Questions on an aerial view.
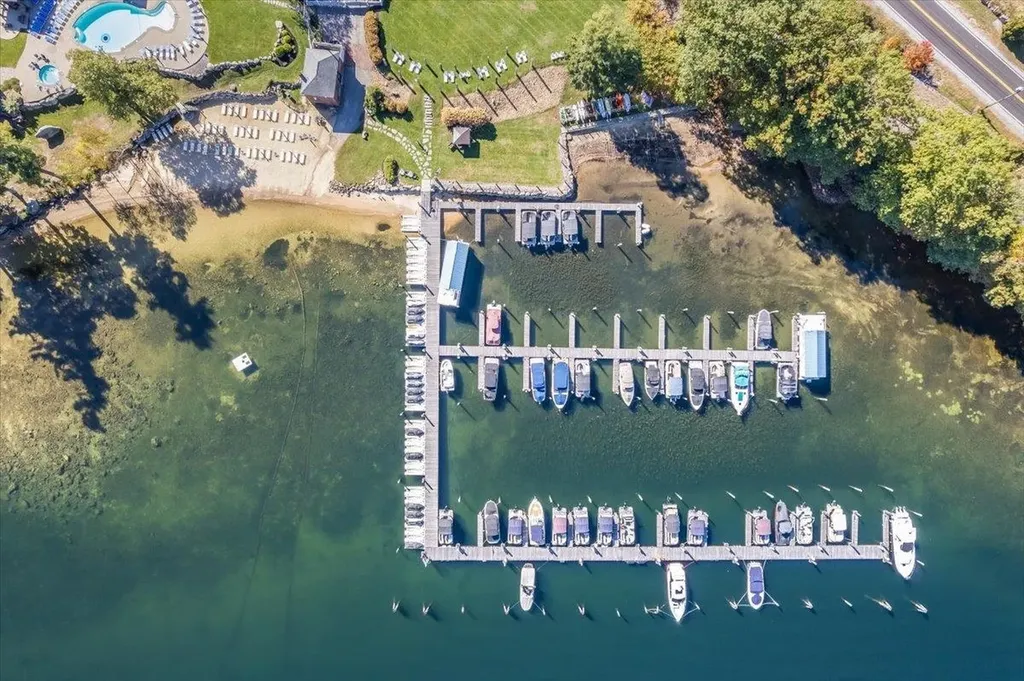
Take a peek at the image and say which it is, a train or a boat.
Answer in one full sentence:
There is a boat in the scene.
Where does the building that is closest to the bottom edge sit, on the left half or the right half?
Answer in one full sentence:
It is on the right.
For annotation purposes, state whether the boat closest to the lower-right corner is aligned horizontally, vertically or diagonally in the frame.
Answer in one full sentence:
In this picture, the boat closest to the lower-right corner lies vertically.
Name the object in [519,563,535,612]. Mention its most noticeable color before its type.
white boat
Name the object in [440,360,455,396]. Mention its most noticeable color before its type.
white boat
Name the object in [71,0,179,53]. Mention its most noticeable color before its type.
white swimming pool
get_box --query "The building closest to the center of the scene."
[437,239,470,308]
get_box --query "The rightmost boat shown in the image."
[891,503,919,580]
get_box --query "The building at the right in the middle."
[793,313,826,380]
